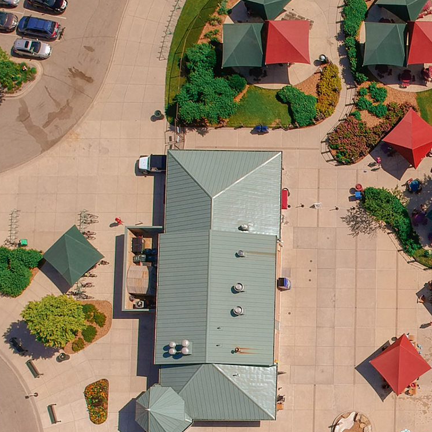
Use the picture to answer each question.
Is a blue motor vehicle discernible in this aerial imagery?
Yes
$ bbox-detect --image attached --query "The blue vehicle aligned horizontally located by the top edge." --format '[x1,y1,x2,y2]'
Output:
[16,16,62,42]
